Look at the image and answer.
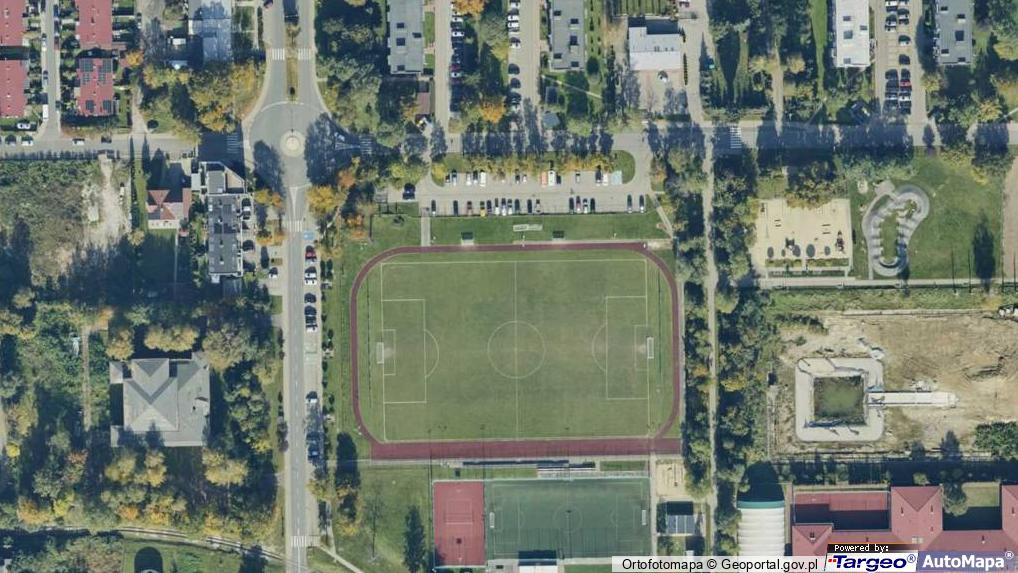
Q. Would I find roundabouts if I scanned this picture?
Yes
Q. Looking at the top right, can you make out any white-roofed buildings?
Yes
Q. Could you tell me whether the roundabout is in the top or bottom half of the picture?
top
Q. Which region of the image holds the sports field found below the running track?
bottom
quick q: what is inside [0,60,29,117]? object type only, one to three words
house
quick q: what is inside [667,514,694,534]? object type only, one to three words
building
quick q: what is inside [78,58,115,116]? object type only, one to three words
house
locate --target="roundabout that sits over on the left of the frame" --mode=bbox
[248,97,339,189]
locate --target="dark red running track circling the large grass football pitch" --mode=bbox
[350,242,680,461]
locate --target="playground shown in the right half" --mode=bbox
[751,198,851,276]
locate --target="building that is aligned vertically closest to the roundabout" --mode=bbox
[201,161,249,283]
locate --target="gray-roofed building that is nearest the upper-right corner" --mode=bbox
[930,0,973,67]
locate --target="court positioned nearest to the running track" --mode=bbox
[433,481,485,567]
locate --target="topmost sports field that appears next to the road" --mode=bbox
[357,249,673,442]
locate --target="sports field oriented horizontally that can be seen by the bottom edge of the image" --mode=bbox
[485,478,651,560]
